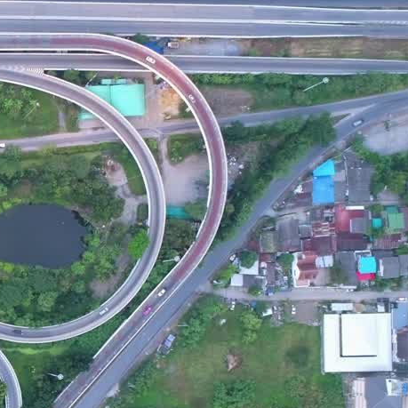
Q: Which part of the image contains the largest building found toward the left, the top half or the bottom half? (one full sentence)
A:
The largest building found toward the left sits in the top half of the picture.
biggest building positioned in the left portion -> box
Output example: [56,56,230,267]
[84,84,145,117]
